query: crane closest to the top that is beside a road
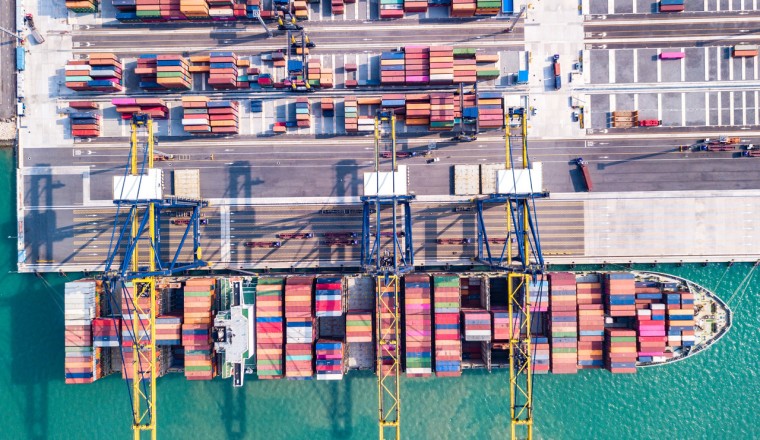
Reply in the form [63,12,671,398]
[269,0,299,31]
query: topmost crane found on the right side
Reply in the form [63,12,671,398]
[449,78,479,141]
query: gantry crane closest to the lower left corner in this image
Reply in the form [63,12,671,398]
[98,113,220,440]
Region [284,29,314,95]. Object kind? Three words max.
crane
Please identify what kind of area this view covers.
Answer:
port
